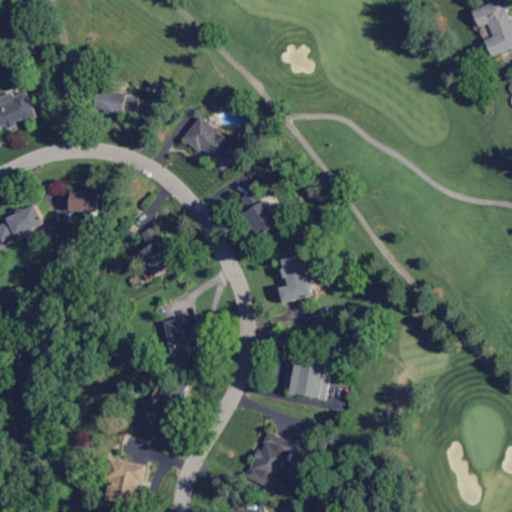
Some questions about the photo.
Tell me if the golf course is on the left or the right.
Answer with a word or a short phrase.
right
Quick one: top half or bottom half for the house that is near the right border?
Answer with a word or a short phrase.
top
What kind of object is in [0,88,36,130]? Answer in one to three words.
house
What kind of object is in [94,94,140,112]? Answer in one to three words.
house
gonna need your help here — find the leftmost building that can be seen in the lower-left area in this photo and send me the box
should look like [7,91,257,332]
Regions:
[106,456,148,498]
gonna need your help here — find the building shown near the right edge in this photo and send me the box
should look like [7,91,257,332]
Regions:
[472,2,512,57]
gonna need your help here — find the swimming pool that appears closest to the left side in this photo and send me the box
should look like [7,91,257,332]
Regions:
[220,112,240,125]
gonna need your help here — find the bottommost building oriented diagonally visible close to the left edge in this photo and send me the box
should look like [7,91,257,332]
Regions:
[0,204,42,244]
